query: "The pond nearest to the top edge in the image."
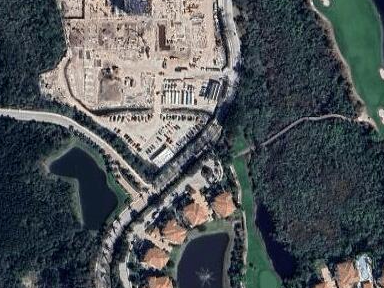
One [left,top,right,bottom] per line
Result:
[48,146,118,229]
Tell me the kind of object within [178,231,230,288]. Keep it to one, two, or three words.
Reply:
pond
